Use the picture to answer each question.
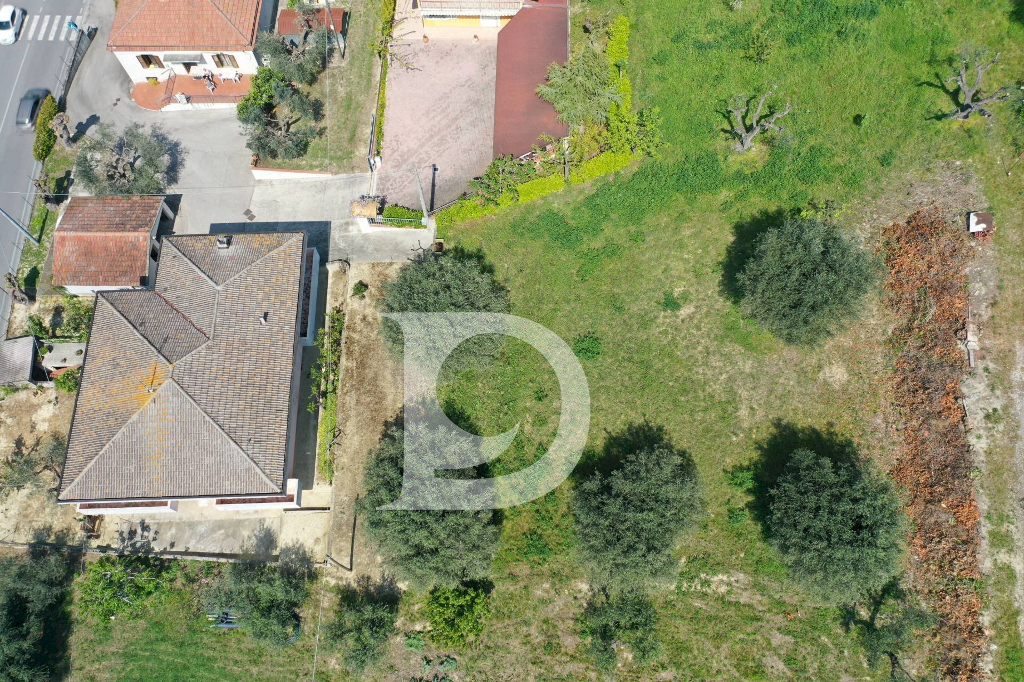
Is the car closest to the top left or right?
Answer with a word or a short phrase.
left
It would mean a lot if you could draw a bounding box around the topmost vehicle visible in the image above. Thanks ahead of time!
[0,8,23,42]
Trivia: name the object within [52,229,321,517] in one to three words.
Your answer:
house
